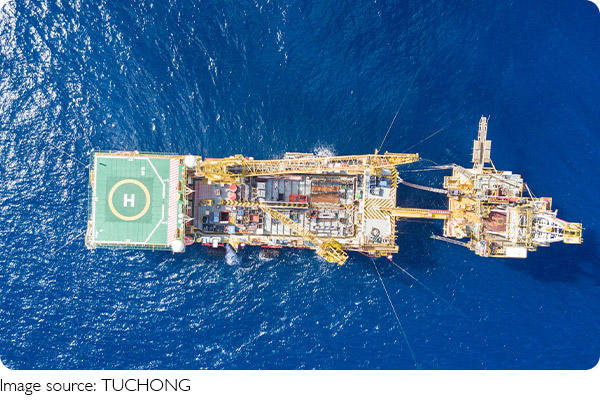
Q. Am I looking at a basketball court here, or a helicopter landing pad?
helicopter landing pad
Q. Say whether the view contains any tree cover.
No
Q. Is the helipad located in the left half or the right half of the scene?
left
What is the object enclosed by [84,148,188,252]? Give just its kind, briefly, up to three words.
helipad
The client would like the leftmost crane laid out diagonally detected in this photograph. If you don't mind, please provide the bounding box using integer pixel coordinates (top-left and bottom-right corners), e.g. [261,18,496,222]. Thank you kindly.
[254,199,350,266]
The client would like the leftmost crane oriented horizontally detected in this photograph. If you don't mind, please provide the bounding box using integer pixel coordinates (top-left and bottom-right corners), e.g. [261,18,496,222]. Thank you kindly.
[203,153,422,184]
